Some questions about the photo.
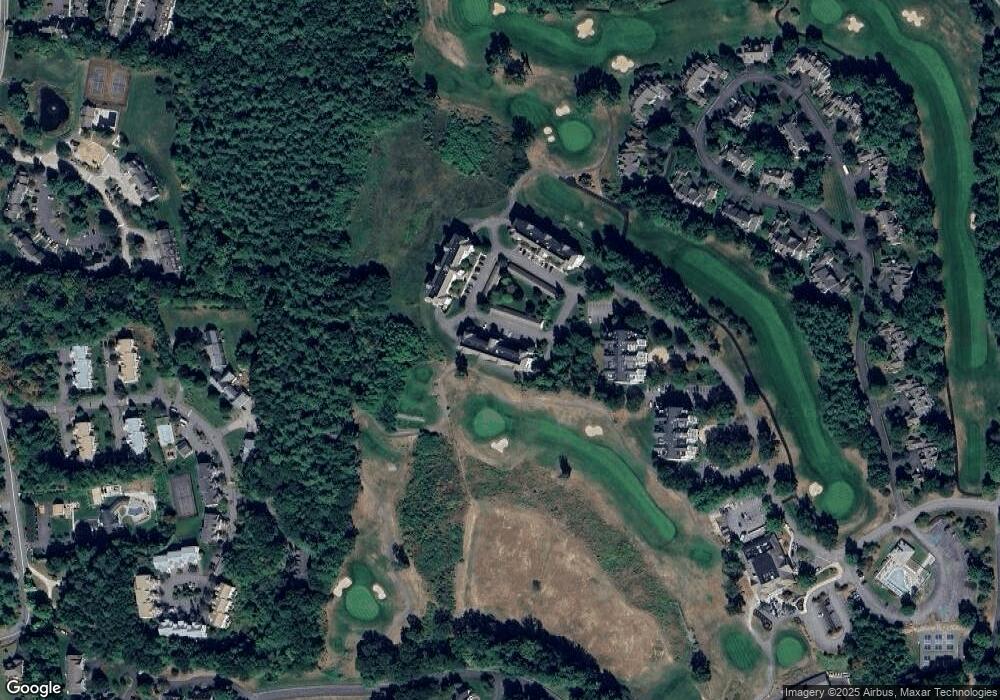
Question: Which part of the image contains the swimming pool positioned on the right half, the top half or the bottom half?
bottom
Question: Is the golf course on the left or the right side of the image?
right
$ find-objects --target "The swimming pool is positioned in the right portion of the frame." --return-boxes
[876,538,934,595]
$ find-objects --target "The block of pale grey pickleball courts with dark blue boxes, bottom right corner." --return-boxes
[920,631,958,668]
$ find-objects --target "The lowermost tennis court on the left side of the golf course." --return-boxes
[171,473,198,517]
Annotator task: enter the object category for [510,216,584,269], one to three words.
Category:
building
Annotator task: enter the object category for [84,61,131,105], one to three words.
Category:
tennis court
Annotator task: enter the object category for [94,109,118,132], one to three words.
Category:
swimming pool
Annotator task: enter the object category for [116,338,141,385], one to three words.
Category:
house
